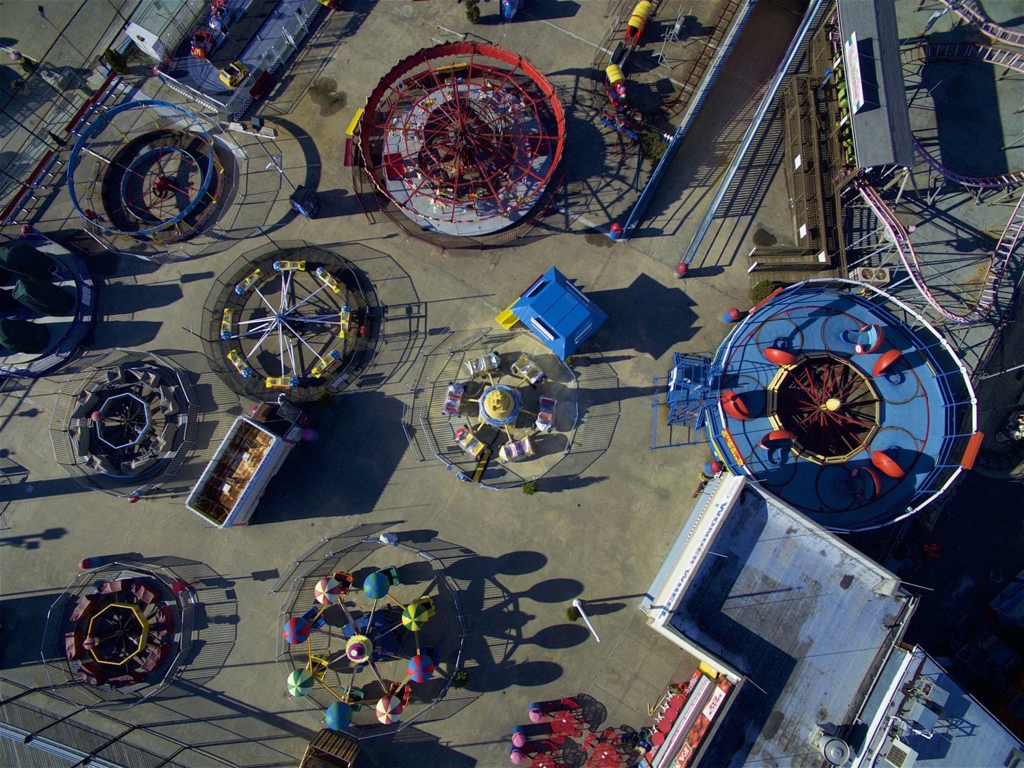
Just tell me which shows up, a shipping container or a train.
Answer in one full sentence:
I can see a train in this picture.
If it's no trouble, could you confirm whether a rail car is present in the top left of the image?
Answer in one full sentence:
No, there's no rail car to be seen in the top left of the image.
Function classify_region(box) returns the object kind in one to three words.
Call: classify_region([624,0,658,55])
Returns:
rail car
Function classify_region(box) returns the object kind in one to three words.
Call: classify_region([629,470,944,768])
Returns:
building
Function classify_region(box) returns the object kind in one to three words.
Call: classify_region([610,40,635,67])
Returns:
rail car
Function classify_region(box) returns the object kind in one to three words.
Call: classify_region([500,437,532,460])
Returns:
car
